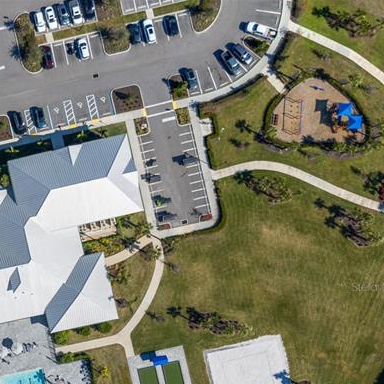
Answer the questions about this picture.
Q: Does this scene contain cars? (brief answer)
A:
Yes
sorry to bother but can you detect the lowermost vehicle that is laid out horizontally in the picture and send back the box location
[155,210,177,223]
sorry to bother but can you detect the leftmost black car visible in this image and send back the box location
[12,111,24,133]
